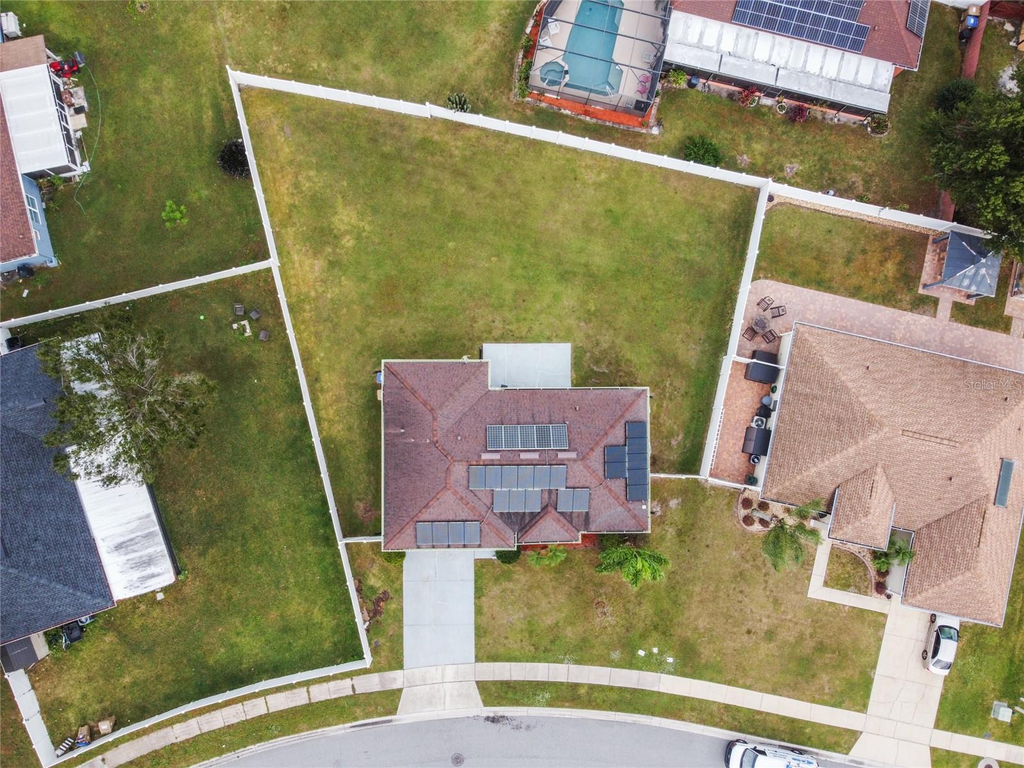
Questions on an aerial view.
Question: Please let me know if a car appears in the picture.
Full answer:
Yes, the image includes a car.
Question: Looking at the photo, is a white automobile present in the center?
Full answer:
No, no white automobile appears in the center.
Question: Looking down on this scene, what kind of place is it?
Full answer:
This looks like a residential area.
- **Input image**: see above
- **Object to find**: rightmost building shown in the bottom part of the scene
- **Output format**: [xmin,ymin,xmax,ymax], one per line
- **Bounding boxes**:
[755,320,1024,628]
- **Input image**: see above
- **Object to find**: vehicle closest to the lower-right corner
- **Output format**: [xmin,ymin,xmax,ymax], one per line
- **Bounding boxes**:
[927,615,971,678]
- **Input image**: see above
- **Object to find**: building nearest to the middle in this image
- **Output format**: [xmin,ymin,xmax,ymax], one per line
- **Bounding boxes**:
[380,351,652,554]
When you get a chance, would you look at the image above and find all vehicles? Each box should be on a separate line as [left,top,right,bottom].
[729,740,821,768]
[927,615,971,678]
